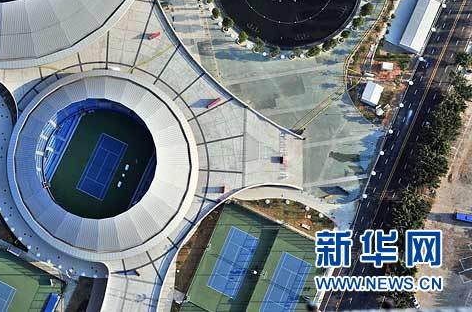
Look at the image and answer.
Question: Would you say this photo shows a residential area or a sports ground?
sports ground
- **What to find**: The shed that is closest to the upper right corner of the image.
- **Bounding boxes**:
[397,0,441,55]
